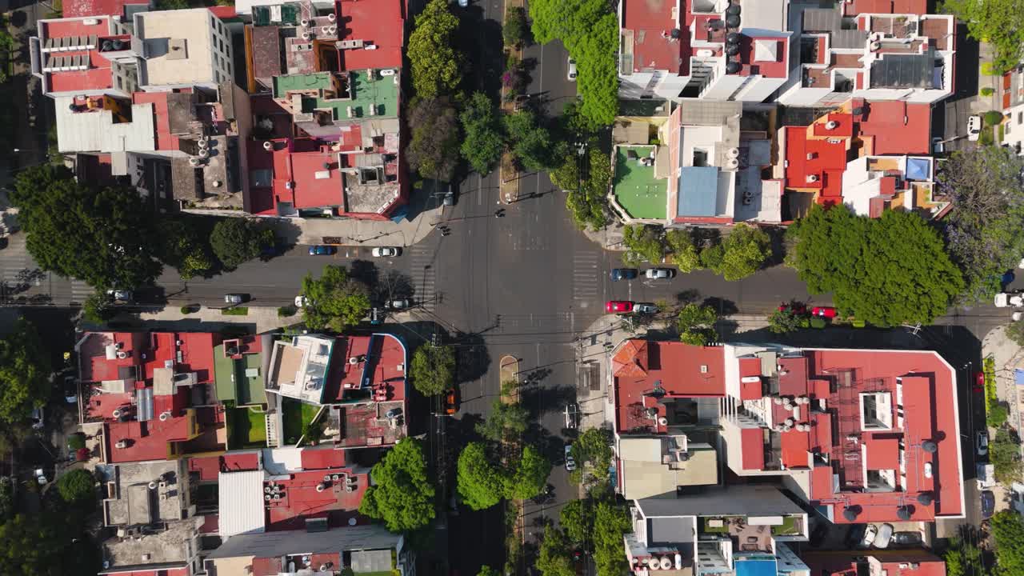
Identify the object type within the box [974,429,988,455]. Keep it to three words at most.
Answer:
car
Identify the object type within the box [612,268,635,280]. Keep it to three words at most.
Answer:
vehicle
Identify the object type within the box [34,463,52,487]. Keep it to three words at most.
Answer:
car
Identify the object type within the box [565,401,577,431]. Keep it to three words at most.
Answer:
vehicle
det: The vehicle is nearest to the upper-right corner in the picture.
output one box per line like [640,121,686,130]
[965,113,981,142]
